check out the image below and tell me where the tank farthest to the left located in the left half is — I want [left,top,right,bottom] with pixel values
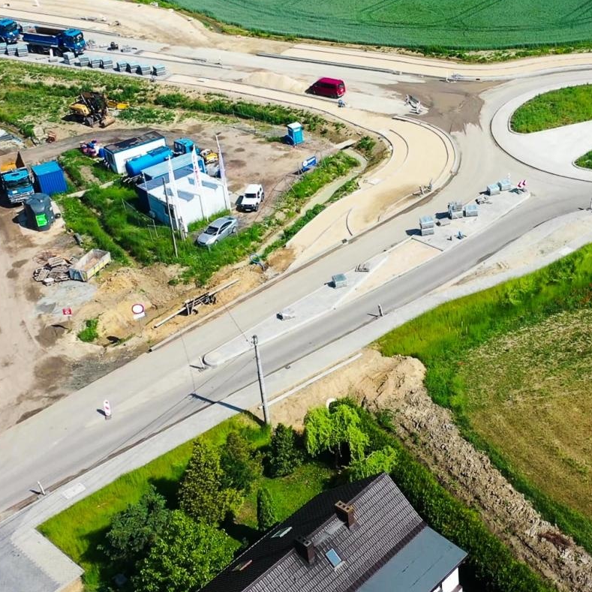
[20,192,52,223]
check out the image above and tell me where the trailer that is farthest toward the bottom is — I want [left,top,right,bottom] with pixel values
[152,271,241,326]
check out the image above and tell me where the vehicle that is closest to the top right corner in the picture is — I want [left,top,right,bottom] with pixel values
[305,77,343,97]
